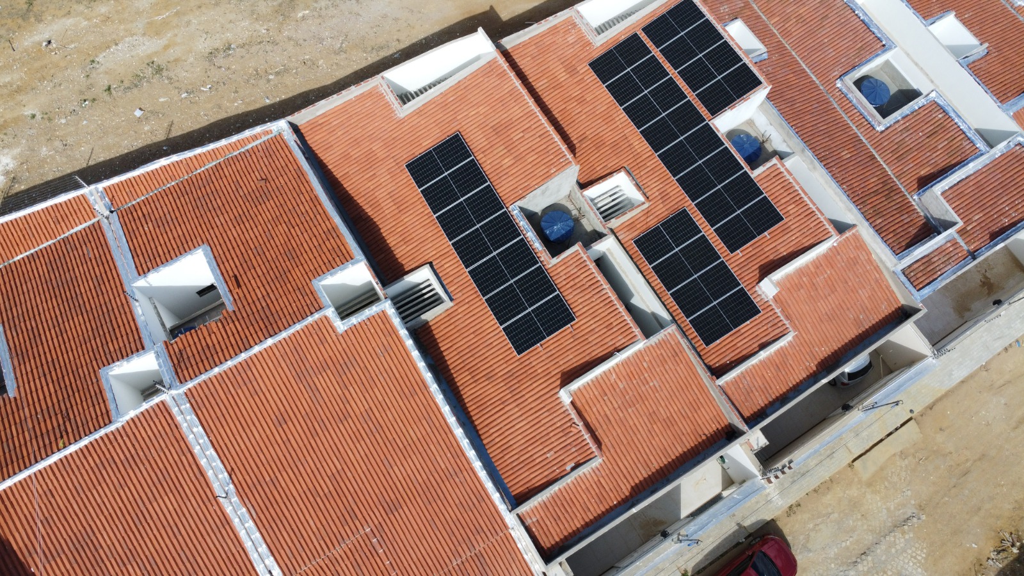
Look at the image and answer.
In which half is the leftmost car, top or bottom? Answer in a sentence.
You can find the leftmost car in the bottom half.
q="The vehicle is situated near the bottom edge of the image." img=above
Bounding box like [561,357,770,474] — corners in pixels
[701,532,803,576]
